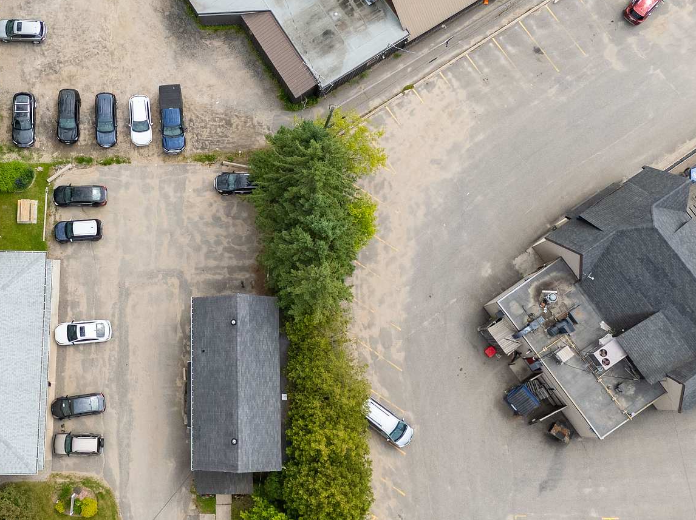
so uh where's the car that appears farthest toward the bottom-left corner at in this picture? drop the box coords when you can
[51,430,106,460]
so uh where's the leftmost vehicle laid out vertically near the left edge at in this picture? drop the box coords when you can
[9,92,36,148]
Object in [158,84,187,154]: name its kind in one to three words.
truck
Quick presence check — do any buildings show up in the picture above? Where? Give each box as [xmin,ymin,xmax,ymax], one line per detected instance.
[187,294,286,494]
[181,0,492,102]
[484,166,696,439]
[0,250,52,476]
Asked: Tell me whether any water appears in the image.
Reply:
No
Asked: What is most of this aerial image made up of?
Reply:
paved ground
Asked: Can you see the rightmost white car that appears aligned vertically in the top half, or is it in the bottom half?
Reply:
top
